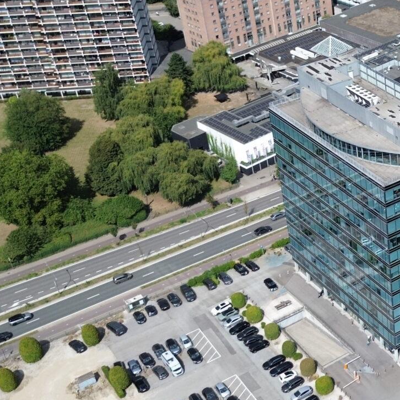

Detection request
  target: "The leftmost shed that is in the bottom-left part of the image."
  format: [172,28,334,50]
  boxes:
[69,368,102,393]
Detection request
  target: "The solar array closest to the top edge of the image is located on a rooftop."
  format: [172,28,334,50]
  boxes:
[266,29,328,53]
